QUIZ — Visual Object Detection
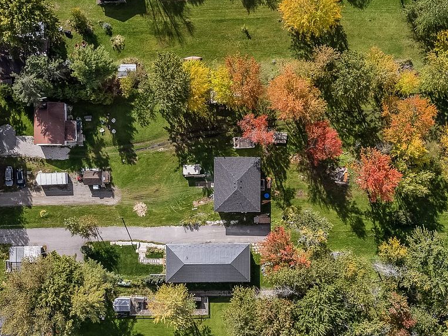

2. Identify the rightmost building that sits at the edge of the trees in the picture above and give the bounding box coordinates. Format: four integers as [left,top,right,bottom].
[214,157,271,224]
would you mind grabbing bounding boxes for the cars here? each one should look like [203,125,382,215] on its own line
[15,167,25,187]
[4,166,14,187]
